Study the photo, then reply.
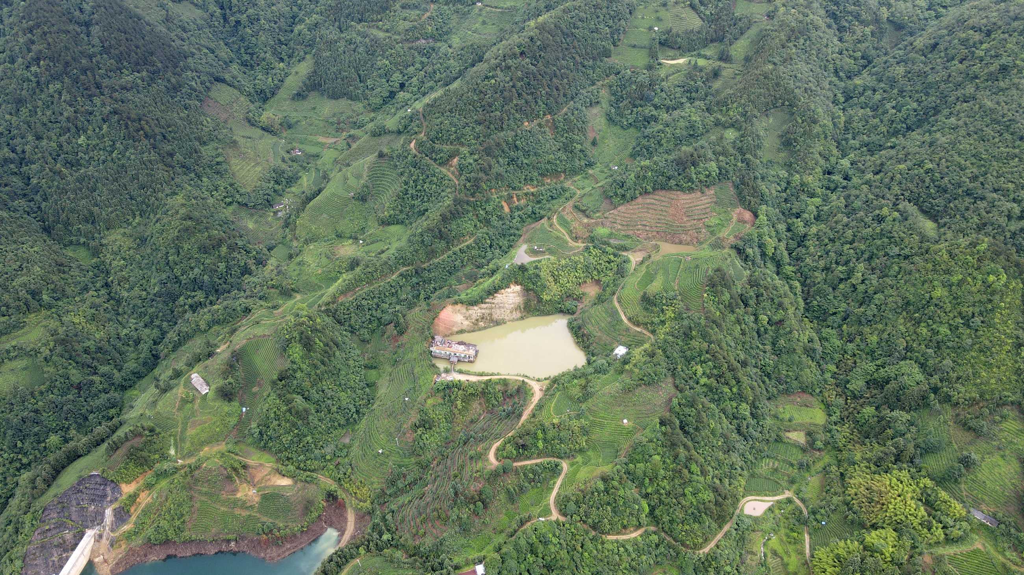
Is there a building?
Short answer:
Yes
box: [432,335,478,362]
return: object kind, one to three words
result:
house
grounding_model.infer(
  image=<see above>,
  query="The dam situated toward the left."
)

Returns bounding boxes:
[59,530,96,575]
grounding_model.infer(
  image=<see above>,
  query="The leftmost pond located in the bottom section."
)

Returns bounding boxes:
[87,528,339,575]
